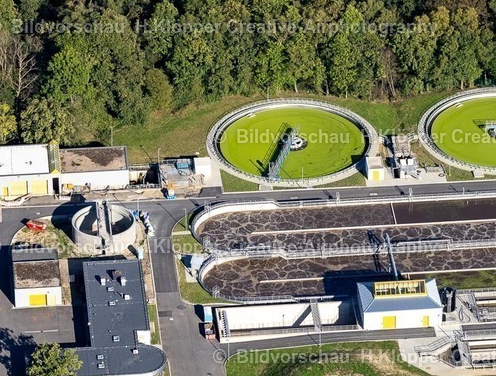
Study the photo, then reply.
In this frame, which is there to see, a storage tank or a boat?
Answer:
storage tank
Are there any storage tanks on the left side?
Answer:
Yes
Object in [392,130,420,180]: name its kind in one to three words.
building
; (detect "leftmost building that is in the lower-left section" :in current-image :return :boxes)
[11,250,62,308]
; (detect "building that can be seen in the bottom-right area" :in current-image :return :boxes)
[359,278,443,330]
